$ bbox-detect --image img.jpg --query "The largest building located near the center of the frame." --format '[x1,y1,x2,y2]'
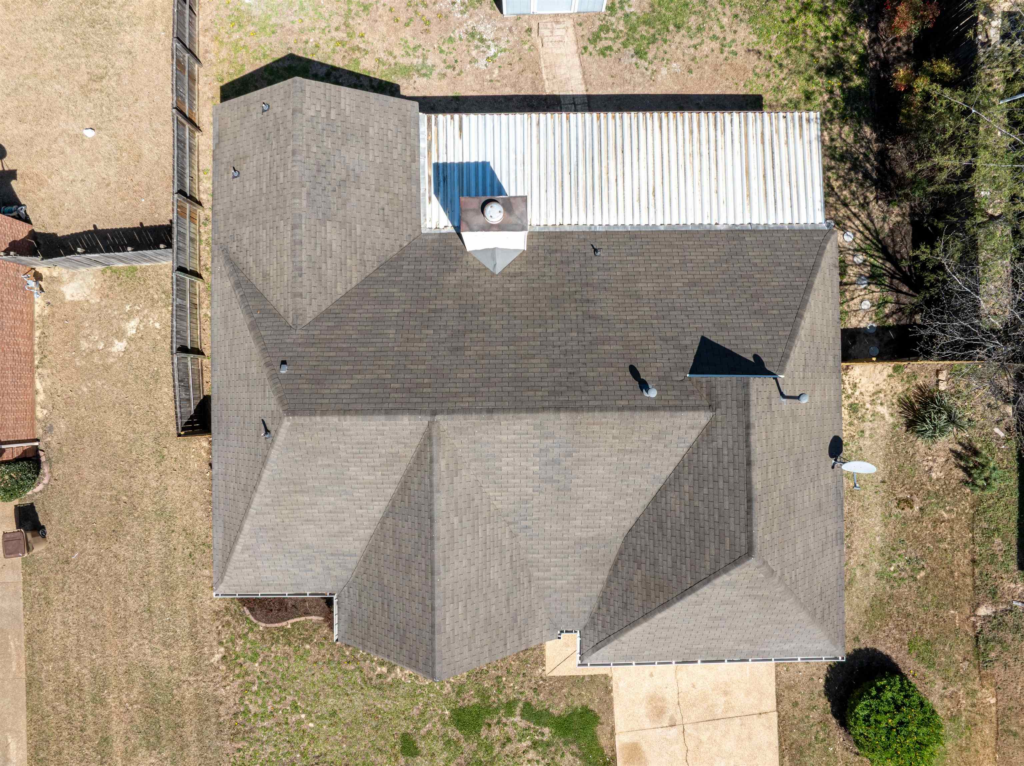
[210,77,847,682]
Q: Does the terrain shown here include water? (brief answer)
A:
No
